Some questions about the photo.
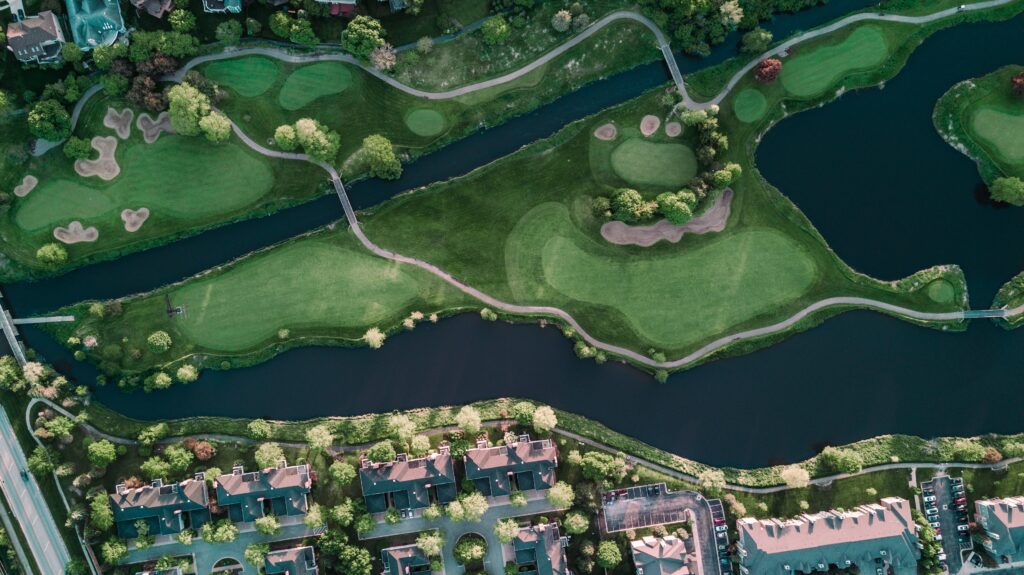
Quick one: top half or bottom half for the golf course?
top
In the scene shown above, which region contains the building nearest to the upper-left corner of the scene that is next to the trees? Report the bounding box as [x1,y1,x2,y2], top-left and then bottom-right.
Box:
[3,9,66,69]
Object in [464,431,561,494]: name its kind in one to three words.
house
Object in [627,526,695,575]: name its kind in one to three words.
building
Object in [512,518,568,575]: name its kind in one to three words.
house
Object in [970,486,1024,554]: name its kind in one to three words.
building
